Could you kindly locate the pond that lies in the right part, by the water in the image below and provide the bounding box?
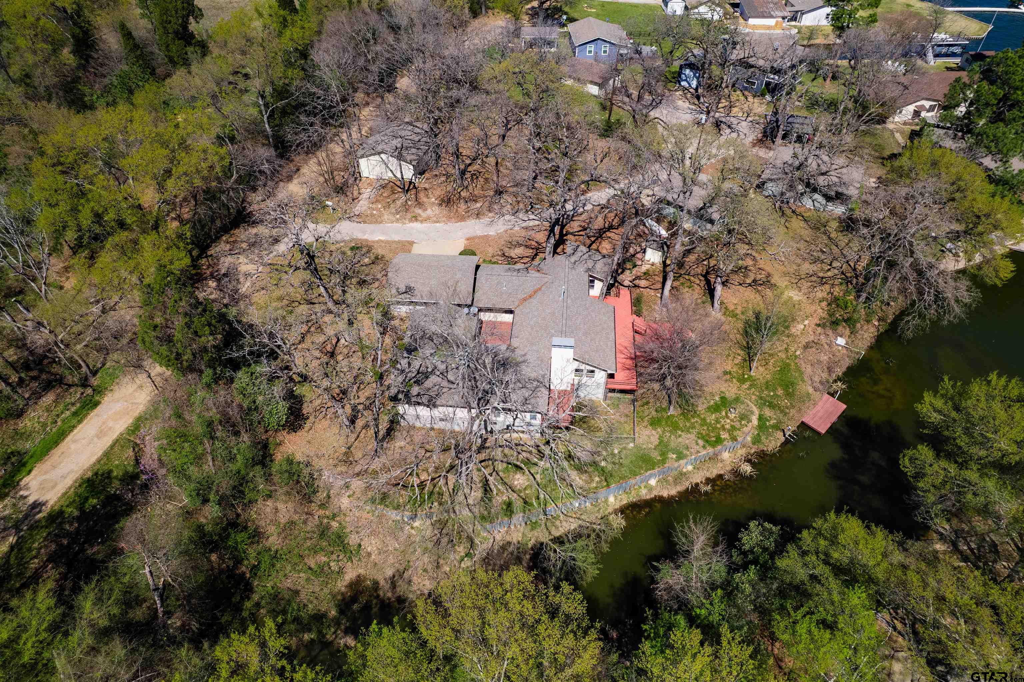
[298,256,1024,682]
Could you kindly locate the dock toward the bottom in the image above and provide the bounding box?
[800,395,847,436]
